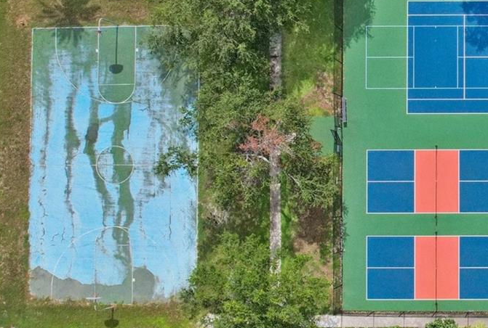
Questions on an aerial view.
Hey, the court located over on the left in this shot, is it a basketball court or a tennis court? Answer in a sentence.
The court located over on the left can be classified as a basketball court.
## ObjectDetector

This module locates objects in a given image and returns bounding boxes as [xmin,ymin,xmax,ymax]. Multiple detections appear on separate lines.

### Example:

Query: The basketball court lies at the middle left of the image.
[28,25,198,303]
